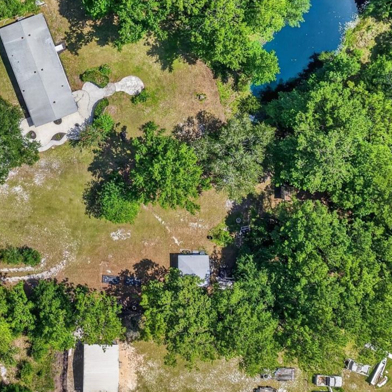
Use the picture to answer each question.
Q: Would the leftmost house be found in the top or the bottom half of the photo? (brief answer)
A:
top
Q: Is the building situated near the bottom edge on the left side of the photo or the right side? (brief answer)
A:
left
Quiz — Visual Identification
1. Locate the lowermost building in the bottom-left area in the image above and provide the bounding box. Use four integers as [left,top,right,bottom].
[83,339,118,392]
